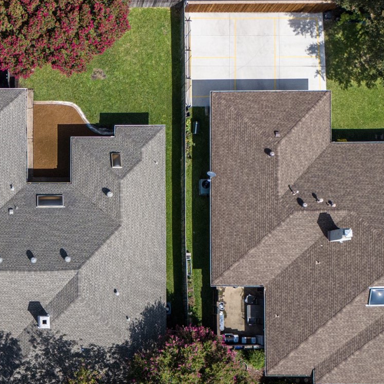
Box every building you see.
[0,87,169,384]
[207,90,384,384]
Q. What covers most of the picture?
buildings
